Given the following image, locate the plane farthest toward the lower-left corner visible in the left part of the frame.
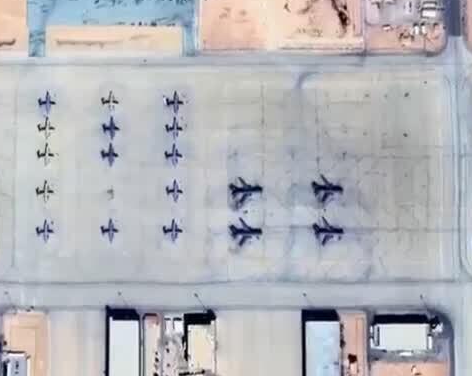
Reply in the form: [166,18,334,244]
[38,221,54,244]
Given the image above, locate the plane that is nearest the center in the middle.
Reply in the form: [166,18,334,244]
[232,179,262,206]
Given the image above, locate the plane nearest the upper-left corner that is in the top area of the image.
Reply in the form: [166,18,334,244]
[39,92,56,115]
